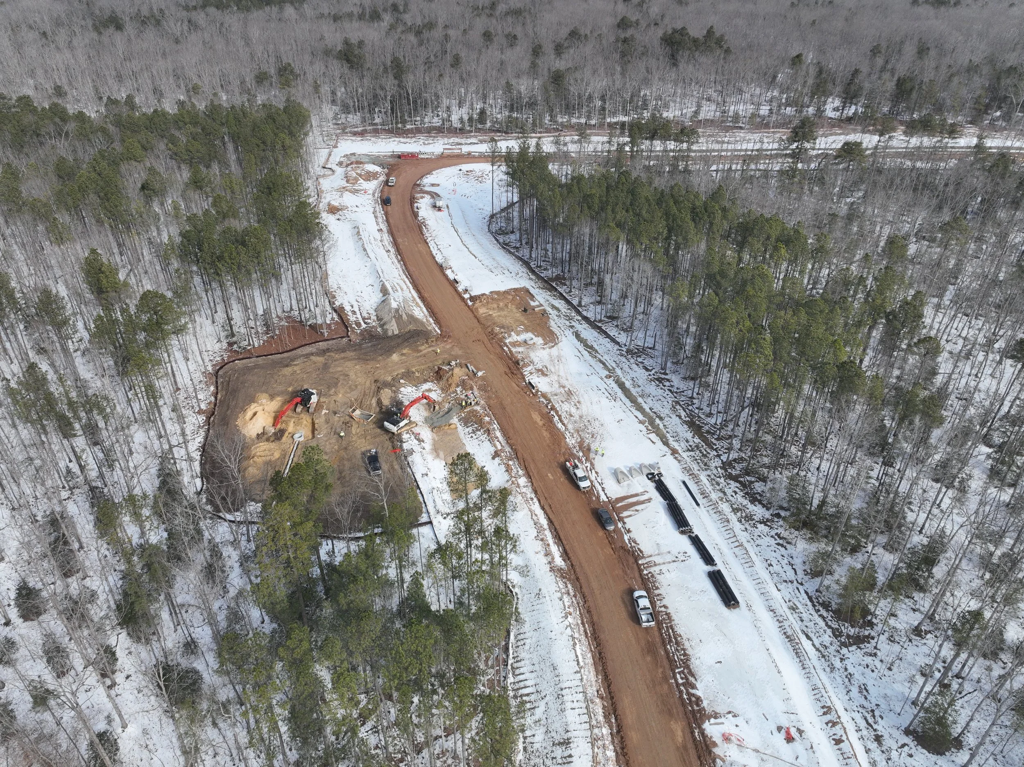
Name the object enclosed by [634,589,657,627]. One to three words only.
truck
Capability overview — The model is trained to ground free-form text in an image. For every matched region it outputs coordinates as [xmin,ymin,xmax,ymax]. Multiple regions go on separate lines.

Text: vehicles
[365,448,382,475]
[266,388,322,428]
[388,177,397,186]
[634,589,657,627]
[598,507,617,531]
[384,196,391,205]
[569,461,591,490]
[390,393,441,437]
